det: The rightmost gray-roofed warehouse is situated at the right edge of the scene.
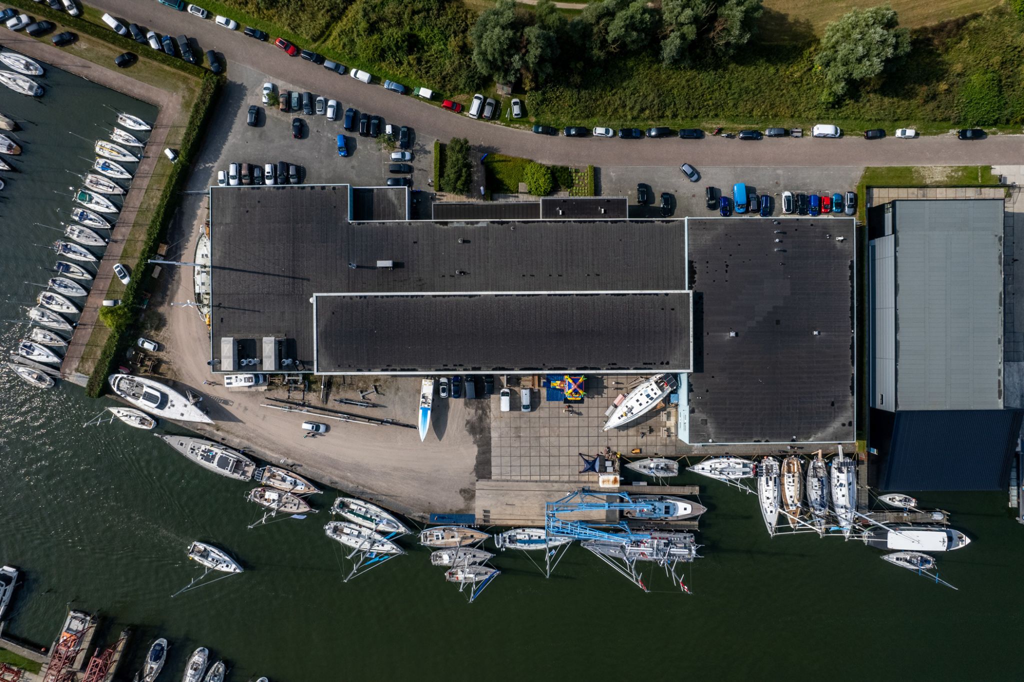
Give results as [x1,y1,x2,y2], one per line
[873,199,1006,436]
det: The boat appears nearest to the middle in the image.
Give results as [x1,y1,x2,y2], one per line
[419,377,434,441]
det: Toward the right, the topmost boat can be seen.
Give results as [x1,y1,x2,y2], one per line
[602,373,681,432]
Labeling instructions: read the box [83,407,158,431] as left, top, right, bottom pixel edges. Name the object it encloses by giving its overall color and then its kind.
white boat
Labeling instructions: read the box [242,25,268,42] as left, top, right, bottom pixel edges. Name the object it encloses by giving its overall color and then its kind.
black vehicle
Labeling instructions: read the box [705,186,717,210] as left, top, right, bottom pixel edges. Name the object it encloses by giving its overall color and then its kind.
black vehicle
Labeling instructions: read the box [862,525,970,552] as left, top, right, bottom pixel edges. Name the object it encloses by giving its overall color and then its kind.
white boat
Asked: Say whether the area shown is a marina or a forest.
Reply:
marina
